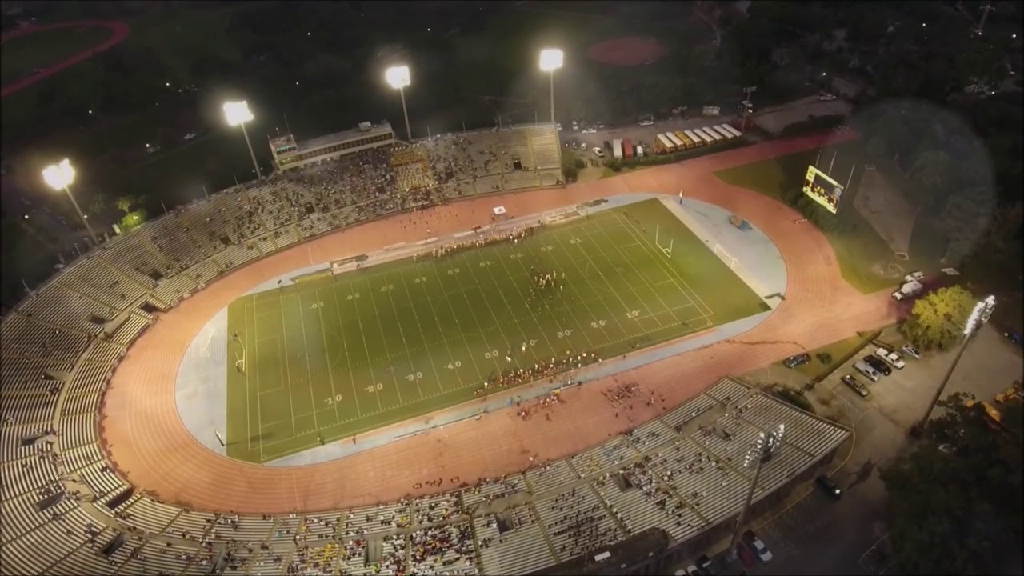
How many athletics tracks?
one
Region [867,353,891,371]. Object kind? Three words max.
car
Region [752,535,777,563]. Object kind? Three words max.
car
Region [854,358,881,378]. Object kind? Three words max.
vehicle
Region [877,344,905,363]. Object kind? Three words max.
vehicle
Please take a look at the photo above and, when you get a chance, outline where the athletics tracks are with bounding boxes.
[97,126,960,523]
